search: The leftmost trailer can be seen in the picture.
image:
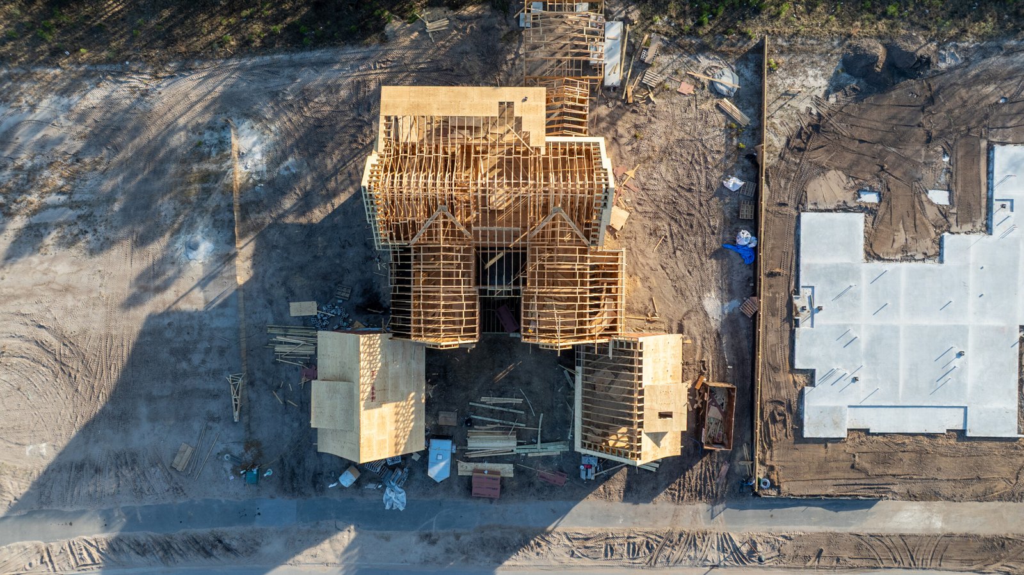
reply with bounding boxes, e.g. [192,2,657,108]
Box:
[428,432,456,485]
